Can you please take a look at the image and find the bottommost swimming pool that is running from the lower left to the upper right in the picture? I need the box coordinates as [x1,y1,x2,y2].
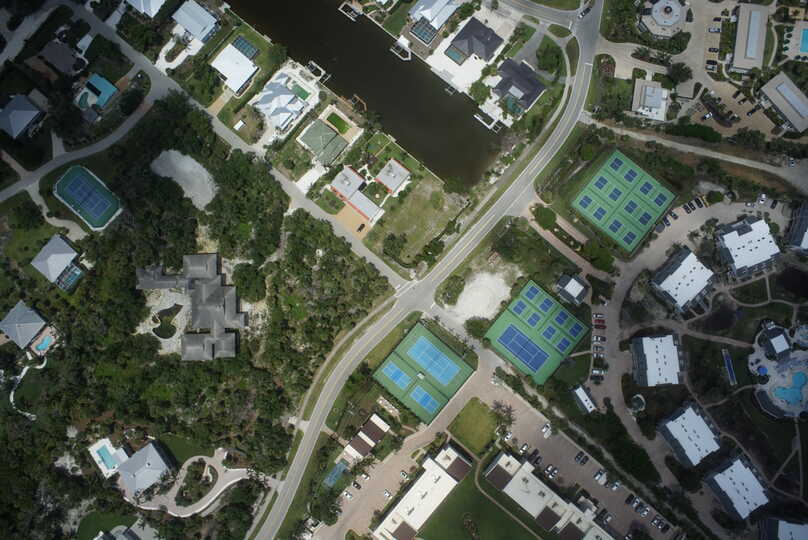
[324,462,348,488]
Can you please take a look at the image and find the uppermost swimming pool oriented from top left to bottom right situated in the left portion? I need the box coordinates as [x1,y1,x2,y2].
[288,81,311,99]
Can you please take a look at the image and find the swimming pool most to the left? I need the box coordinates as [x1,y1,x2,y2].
[35,335,53,351]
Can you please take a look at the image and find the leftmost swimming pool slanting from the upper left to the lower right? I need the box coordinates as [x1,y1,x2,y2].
[96,444,119,471]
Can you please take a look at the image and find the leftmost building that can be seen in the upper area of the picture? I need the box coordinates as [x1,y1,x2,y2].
[0,91,44,139]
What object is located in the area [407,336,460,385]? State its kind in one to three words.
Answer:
tennis court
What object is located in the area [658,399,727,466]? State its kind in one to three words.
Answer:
building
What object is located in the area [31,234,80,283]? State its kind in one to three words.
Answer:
house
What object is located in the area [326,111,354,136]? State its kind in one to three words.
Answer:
swimming pool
